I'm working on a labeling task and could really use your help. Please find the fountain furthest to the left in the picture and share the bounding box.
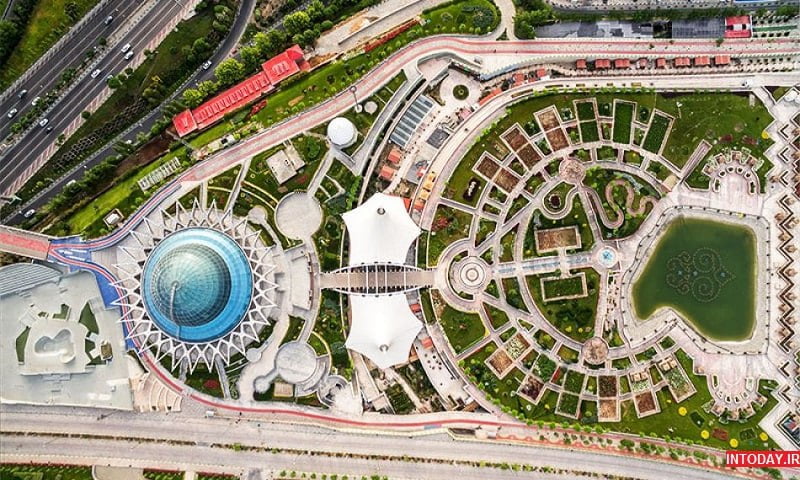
[591,242,622,272]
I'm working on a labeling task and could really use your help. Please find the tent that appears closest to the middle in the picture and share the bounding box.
[339,190,425,269]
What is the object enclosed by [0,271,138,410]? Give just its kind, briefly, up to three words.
building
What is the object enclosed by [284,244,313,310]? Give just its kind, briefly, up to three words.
house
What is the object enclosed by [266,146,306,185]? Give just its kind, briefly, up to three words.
building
